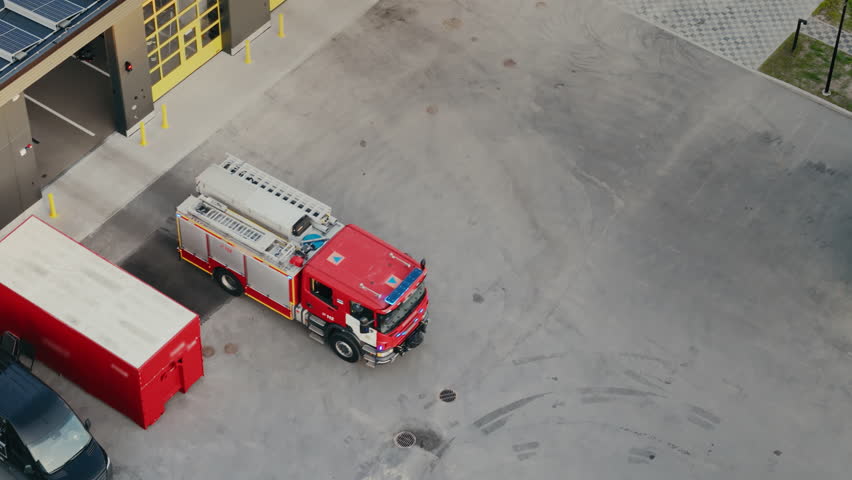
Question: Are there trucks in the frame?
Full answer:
Yes, the image includes a truck.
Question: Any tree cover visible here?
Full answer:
No, the scene doesn't show any tree cover.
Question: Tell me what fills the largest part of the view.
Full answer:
The bulk of the photo consists of paved ground.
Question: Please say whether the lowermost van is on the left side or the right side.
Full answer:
It is on the left.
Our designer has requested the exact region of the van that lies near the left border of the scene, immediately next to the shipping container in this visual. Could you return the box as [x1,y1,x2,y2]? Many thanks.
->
[0,346,115,480]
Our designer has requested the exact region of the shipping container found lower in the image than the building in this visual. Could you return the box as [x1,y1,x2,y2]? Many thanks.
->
[0,216,205,428]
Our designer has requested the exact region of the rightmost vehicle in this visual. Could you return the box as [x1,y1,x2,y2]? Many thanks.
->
[176,156,434,374]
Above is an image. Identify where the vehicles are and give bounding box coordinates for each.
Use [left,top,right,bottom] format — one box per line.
[0,346,115,480]
[176,156,434,374]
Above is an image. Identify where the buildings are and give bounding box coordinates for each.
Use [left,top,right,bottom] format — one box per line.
[0,0,285,233]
